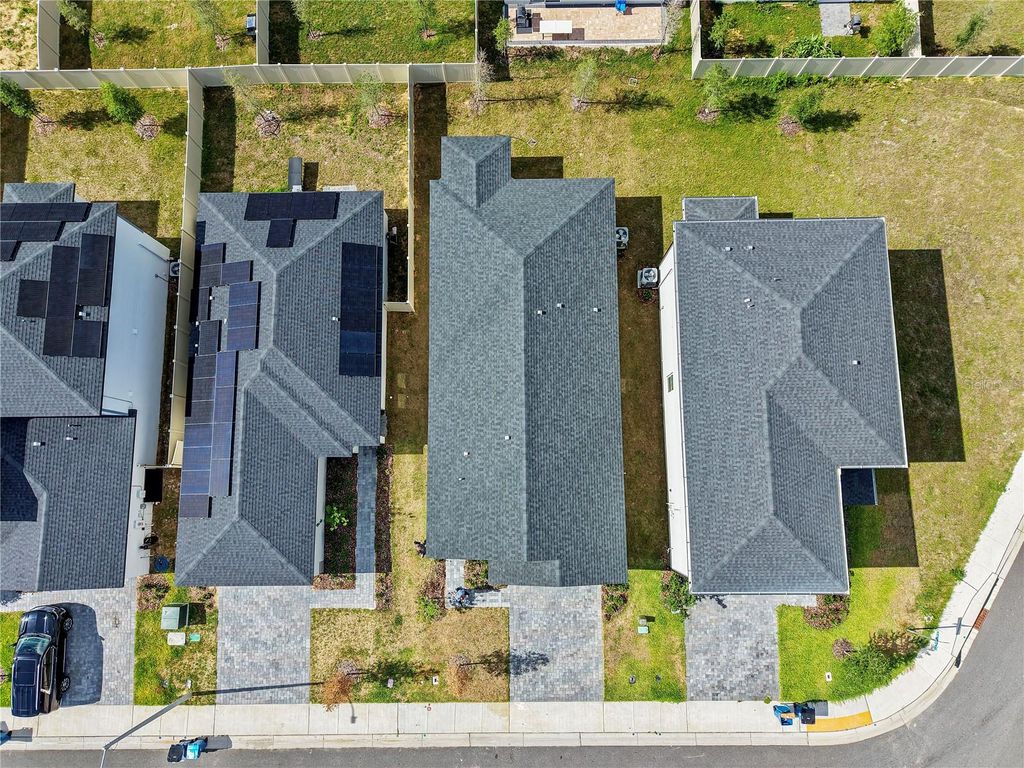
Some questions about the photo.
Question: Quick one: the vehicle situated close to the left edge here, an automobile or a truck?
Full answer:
It turns out the vehicle situated close to the left edge is an automobile.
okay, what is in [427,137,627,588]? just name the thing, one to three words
house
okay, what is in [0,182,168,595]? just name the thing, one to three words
house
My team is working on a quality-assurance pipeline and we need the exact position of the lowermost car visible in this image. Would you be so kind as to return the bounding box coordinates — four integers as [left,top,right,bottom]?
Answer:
[9,606,74,722]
